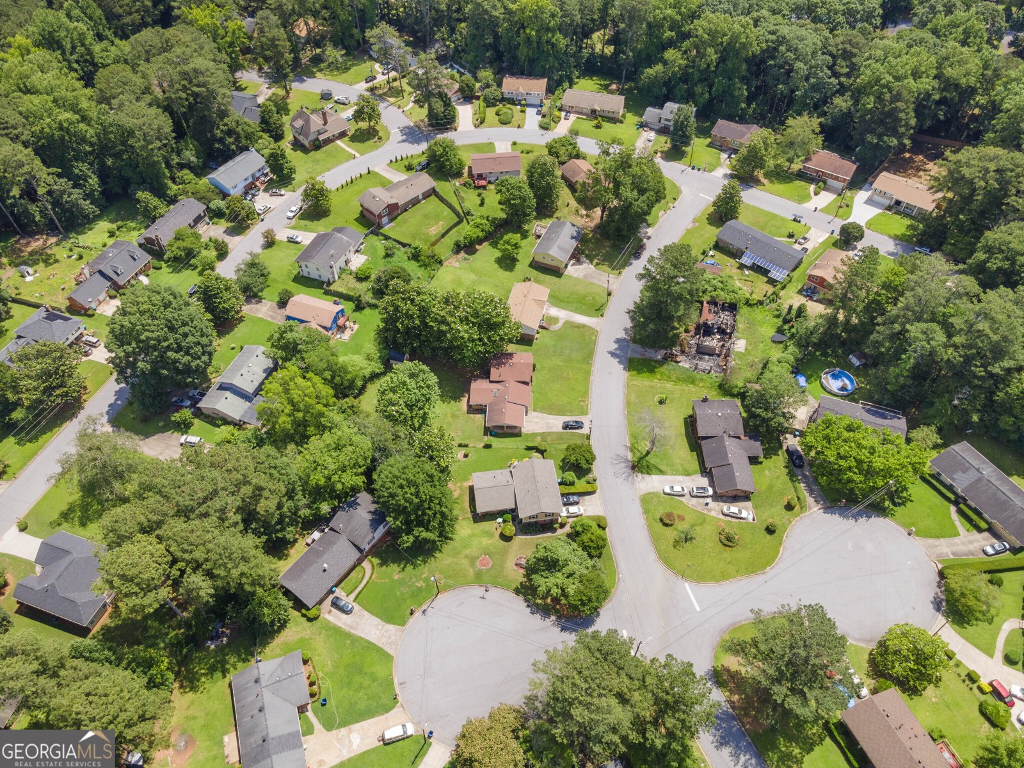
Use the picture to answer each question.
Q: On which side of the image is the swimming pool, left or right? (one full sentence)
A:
The swimming pool sits on the right side.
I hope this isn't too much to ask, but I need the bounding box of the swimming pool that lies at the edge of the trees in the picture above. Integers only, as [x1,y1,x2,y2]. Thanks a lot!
[823,368,856,395]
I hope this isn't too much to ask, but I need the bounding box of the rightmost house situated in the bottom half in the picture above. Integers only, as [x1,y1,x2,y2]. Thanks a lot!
[928,441,1024,554]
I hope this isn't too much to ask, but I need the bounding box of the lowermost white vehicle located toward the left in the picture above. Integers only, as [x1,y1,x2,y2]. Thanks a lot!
[376,720,417,746]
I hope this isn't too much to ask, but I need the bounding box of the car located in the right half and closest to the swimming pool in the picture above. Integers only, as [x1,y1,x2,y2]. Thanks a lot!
[786,446,805,468]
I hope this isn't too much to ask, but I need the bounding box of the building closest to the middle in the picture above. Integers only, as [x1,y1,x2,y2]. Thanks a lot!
[470,352,534,434]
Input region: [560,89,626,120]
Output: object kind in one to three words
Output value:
house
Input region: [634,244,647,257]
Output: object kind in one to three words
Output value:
vehicle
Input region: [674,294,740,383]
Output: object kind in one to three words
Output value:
house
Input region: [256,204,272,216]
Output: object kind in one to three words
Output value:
vehicle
